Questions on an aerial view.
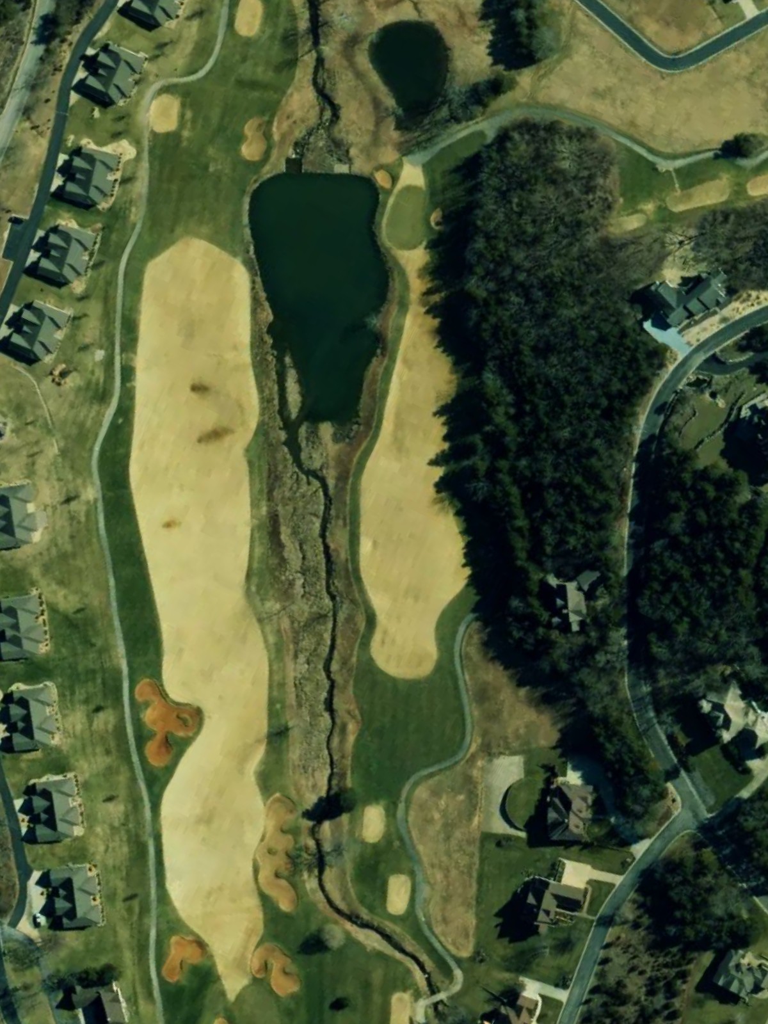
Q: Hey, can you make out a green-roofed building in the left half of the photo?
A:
Yes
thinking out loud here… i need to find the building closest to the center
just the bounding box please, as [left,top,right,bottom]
[546,568,605,633]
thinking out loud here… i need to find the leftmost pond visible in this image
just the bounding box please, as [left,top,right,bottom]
[248,172,389,444]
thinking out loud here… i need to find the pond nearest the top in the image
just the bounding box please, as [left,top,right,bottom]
[369,20,451,120]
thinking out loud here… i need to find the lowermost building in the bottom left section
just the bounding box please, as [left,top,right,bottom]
[70,990,124,1024]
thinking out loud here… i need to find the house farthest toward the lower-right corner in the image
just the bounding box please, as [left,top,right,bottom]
[709,950,768,1009]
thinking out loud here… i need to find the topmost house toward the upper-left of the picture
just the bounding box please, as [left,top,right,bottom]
[130,0,182,31]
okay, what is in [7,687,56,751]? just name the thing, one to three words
house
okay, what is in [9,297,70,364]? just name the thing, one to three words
house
